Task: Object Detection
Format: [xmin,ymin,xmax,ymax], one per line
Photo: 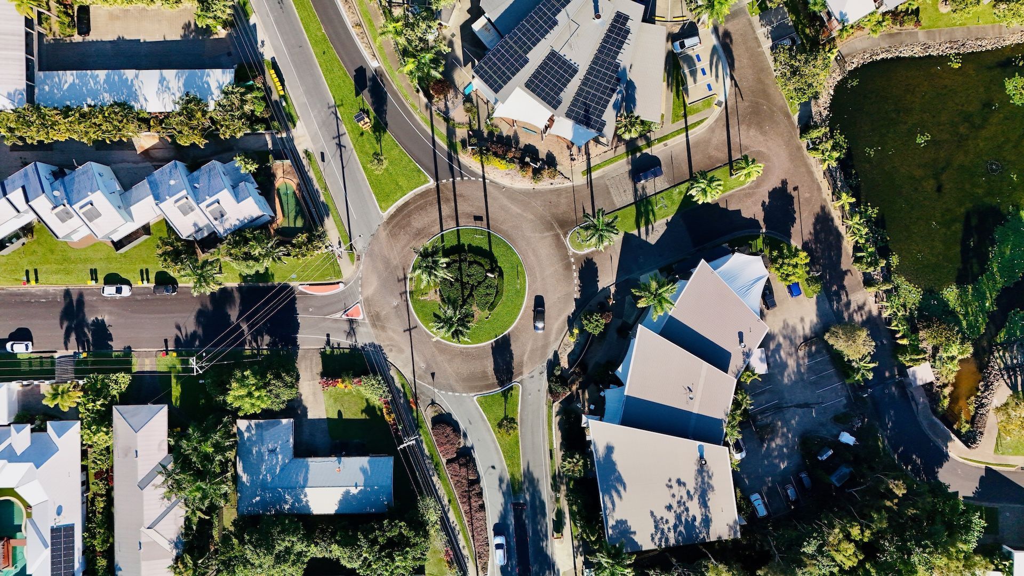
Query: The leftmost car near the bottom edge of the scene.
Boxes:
[492,535,507,567]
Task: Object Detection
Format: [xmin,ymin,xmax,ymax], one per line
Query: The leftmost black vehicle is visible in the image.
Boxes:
[73,5,92,38]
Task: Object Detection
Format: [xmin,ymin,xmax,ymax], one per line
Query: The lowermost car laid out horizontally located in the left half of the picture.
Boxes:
[5,341,35,355]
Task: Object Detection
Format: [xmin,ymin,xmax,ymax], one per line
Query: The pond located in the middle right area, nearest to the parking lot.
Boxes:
[833,45,1024,430]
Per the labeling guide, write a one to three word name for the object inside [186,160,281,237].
house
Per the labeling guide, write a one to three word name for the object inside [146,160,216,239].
house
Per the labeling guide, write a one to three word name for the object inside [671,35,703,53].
car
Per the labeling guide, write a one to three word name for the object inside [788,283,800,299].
vehicle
